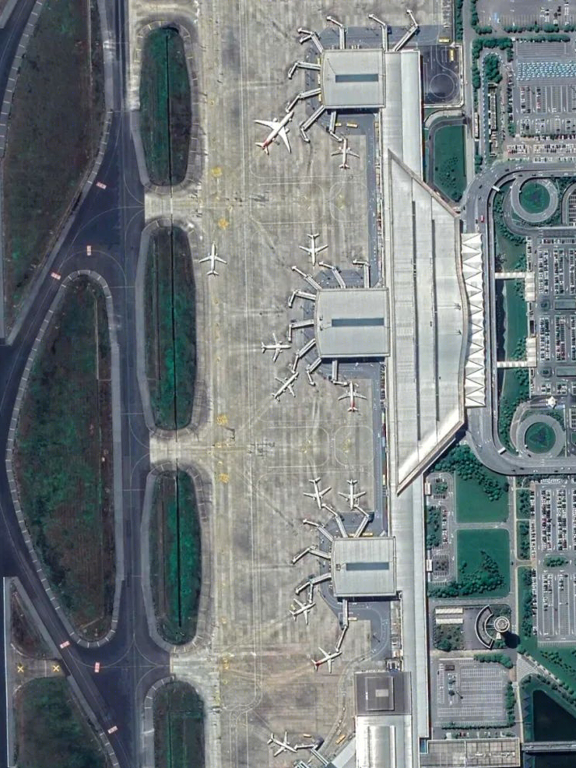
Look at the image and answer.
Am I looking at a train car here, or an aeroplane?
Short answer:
aeroplane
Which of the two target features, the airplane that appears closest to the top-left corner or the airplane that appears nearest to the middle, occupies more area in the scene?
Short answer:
the airplane that appears closest to the top-left corner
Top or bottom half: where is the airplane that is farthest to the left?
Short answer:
top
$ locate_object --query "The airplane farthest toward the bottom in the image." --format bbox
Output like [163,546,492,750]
[268,734,295,758]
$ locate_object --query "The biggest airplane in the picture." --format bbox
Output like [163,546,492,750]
[253,112,292,155]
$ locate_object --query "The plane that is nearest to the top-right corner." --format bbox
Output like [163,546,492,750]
[330,137,359,168]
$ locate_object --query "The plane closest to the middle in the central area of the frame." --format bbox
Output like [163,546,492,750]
[270,372,298,400]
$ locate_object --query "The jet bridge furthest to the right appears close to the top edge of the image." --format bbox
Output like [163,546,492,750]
[394,7,419,49]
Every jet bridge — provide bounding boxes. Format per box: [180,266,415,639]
[328,109,343,142]
[284,87,320,113]
[286,61,320,78]
[334,598,347,652]
[300,105,325,143]
[293,574,332,604]
[291,339,316,374]
[304,358,323,387]
[367,11,386,49]
[353,503,370,537]
[320,502,346,537]
[302,519,333,541]
[318,259,345,288]
[290,265,323,288]
[351,259,368,287]
[394,7,419,49]
[326,14,344,49]
[295,27,323,52]
[287,321,313,343]
[332,358,349,386]
[291,546,332,564]
[287,289,316,308]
